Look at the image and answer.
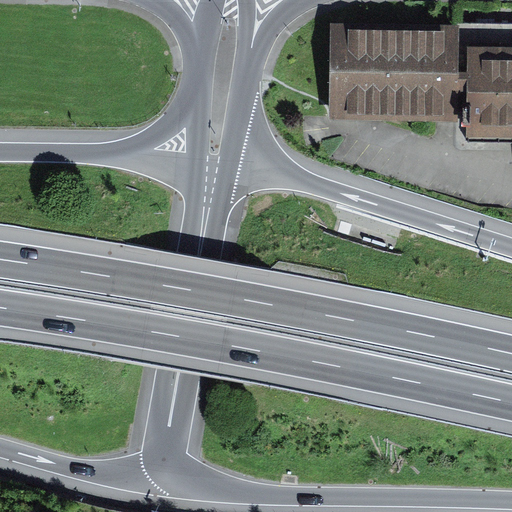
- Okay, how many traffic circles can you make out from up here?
none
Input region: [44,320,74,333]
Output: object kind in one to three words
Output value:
vehicle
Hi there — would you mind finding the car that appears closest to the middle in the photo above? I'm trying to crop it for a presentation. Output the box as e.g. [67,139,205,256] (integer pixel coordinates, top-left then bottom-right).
[232,352,258,364]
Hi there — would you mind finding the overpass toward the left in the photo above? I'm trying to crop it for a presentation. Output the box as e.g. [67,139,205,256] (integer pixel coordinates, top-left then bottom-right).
[143,250,238,378]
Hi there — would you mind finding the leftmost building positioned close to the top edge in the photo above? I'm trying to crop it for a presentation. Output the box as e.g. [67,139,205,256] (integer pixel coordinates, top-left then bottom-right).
[330,22,467,121]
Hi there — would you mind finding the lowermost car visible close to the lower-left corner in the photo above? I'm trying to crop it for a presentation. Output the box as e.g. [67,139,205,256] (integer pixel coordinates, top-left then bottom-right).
[71,464,95,476]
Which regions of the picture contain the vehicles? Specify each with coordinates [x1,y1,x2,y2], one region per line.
[44,320,74,333]
[299,495,323,506]
[20,248,38,260]
[71,464,95,476]
[232,352,258,364]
